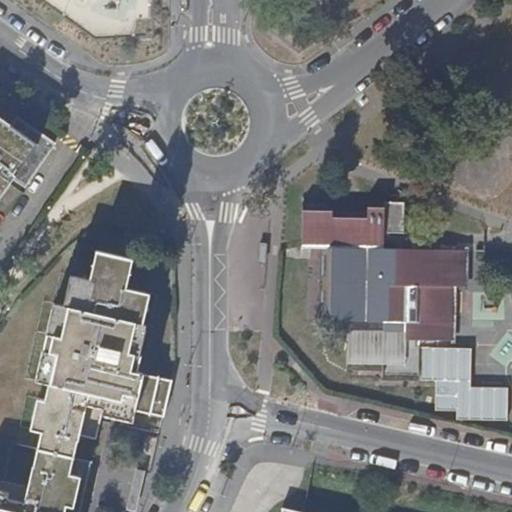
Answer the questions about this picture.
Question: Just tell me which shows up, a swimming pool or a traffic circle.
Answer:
traffic circle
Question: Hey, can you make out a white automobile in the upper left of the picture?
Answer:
Yes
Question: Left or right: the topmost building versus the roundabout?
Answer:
to the left of it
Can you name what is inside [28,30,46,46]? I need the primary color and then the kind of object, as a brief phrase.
white car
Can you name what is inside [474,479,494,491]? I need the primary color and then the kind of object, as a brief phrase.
white vehicle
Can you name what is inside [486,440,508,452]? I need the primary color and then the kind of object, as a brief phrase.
white vehicle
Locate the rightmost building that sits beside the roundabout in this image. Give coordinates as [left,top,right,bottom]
[302,207,468,374]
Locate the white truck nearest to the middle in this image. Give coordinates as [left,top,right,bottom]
[145,136,168,166]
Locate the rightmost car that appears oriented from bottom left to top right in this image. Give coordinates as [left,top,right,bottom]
[434,14,454,30]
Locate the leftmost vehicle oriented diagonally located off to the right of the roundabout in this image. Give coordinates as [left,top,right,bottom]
[307,53,331,72]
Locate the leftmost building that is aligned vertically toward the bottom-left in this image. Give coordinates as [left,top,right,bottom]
[24,252,172,512]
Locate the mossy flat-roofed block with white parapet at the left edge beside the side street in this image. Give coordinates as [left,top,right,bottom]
[0,118,56,198]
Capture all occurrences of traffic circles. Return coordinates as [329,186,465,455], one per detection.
[150,56,282,188]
